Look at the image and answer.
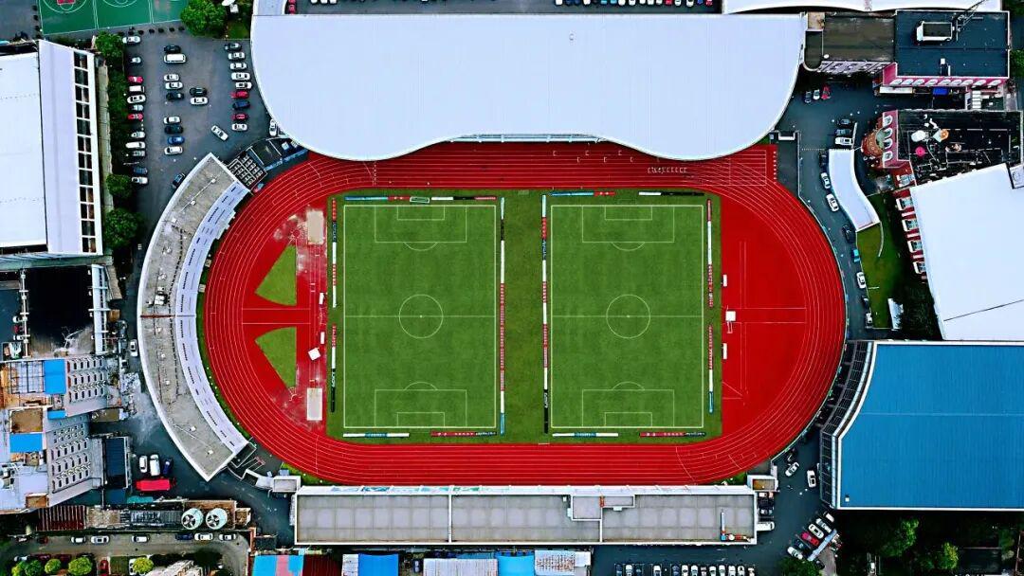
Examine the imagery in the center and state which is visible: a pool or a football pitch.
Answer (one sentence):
Visible in the center is a football pitch.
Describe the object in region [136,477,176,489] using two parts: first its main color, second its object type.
red vehicle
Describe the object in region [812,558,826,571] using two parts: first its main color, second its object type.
black vehicle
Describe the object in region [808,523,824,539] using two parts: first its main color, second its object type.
white car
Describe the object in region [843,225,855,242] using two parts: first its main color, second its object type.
black vehicle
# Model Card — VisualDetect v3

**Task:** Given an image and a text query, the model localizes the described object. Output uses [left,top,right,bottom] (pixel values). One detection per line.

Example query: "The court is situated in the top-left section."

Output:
[40,0,187,34]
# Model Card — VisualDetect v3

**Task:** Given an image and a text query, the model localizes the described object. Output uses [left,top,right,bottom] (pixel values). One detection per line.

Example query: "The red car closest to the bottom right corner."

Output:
[801,530,819,546]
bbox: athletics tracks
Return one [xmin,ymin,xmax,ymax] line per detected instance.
[205,142,845,485]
